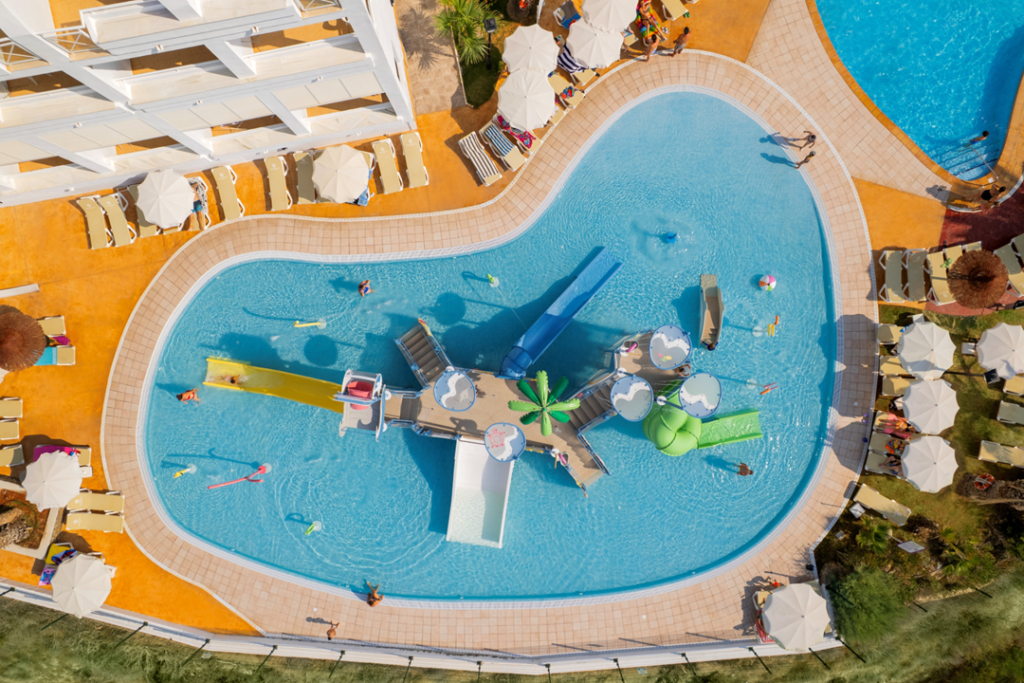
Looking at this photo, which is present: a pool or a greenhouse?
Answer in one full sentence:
This aerial view contains a pool.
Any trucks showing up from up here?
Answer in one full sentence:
No, there is no truck in the image.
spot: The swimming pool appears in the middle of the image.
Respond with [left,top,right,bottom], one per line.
[144,92,837,601]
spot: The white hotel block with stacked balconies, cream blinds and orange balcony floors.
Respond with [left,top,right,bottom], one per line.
[0,0,415,205]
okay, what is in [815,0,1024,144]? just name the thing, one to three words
swimming pool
